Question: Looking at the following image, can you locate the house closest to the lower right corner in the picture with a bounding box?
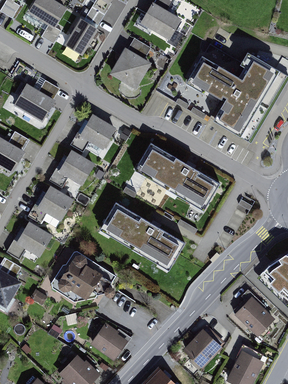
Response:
[227,350,263,384]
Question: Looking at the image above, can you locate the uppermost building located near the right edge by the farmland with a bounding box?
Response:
[189,52,276,136]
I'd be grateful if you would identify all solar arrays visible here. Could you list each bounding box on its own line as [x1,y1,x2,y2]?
[30,5,58,26]
[75,26,94,53]
[0,154,15,170]
[195,350,212,367]
[206,340,221,356]
[15,98,46,120]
